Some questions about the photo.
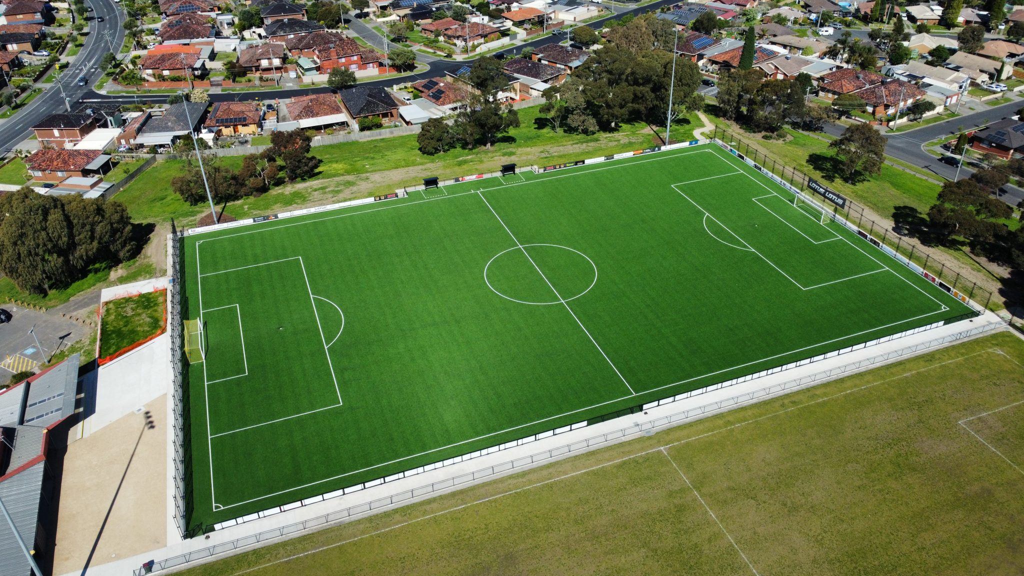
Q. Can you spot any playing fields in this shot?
Yes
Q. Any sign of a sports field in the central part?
Yes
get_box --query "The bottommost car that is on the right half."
[939,155,966,167]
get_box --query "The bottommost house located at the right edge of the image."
[970,116,1024,159]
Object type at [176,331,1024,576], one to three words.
sports field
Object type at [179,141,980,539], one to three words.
sports field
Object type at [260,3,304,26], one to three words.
house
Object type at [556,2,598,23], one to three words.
house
